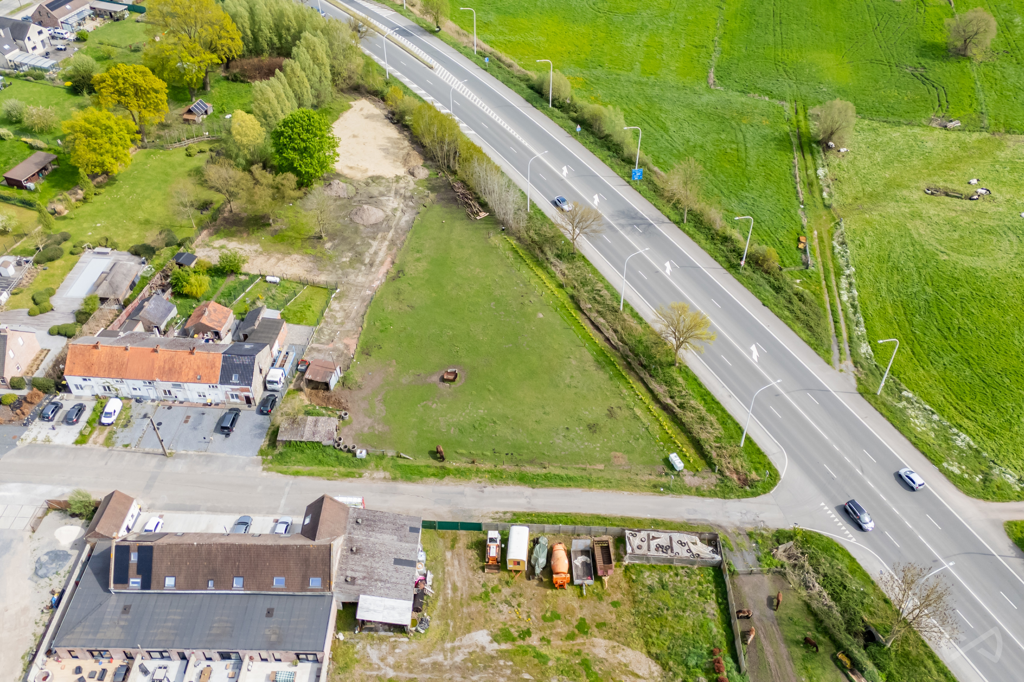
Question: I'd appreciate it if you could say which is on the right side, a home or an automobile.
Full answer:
What appears on the right side is an automobile.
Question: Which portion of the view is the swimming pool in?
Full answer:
The swimming pool is in the left part of the image.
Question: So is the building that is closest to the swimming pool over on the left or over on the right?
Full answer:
It is on the left.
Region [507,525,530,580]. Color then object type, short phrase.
white camper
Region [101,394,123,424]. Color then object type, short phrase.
white car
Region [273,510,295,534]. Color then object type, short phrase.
white car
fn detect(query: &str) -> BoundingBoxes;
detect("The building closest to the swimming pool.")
[95,261,138,308]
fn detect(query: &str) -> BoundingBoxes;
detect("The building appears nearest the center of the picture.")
[304,359,339,390]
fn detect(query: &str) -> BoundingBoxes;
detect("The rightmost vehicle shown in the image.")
[897,466,927,491]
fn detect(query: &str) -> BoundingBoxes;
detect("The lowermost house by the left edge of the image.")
[50,528,342,663]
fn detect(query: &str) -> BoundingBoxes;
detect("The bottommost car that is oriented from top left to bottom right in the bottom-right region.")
[842,497,875,531]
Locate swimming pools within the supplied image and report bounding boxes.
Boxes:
[62,256,114,299]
